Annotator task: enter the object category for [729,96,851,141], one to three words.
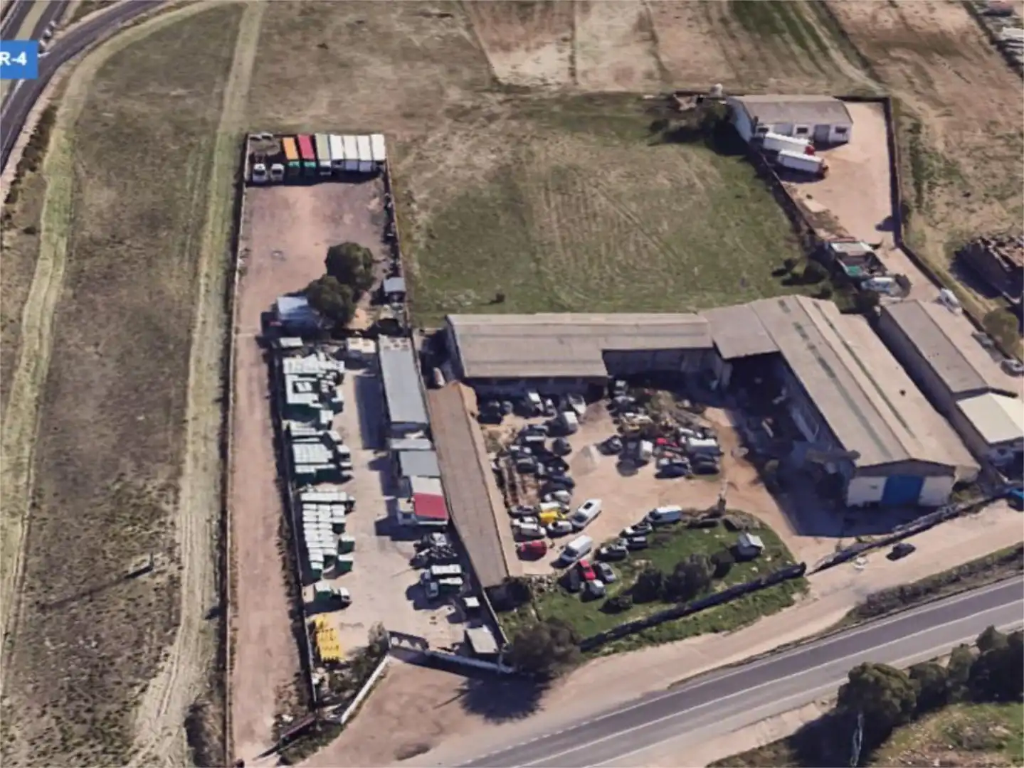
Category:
building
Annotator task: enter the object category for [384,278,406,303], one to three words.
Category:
shed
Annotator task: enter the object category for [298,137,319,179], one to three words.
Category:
truck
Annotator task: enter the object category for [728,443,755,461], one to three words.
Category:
car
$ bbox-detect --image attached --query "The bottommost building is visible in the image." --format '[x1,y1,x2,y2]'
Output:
[467,628,497,666]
